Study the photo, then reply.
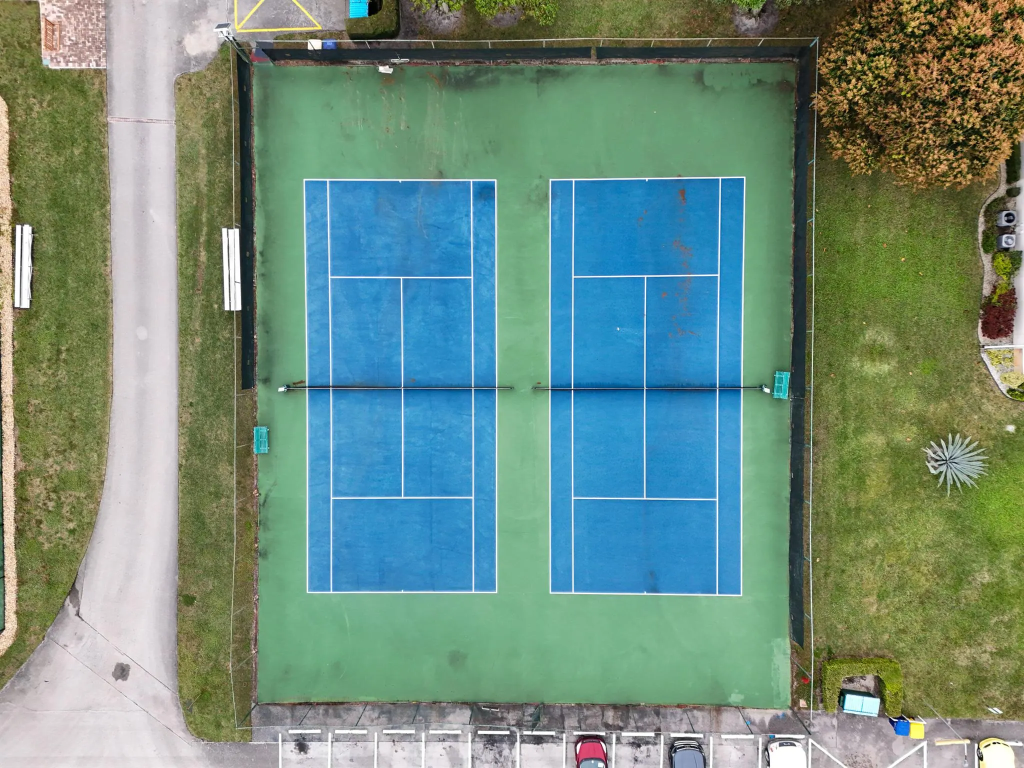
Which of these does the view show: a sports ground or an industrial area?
sports ground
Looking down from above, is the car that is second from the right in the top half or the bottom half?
bottom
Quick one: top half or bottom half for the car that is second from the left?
bottom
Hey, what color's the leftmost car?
red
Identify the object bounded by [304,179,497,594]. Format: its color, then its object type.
blue tennis court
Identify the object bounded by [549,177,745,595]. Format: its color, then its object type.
blue tennis court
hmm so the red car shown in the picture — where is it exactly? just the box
[575,734,607,768]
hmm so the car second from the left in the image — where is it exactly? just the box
[669,739,705,768]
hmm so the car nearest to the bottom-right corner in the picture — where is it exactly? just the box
[975,736,1017,768]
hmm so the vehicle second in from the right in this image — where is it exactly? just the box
[767,738,805,768]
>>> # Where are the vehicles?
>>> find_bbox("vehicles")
[767,738,805,768]
[975,736,1017,768]
[669,739,705,768]
[575,734,607,768]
